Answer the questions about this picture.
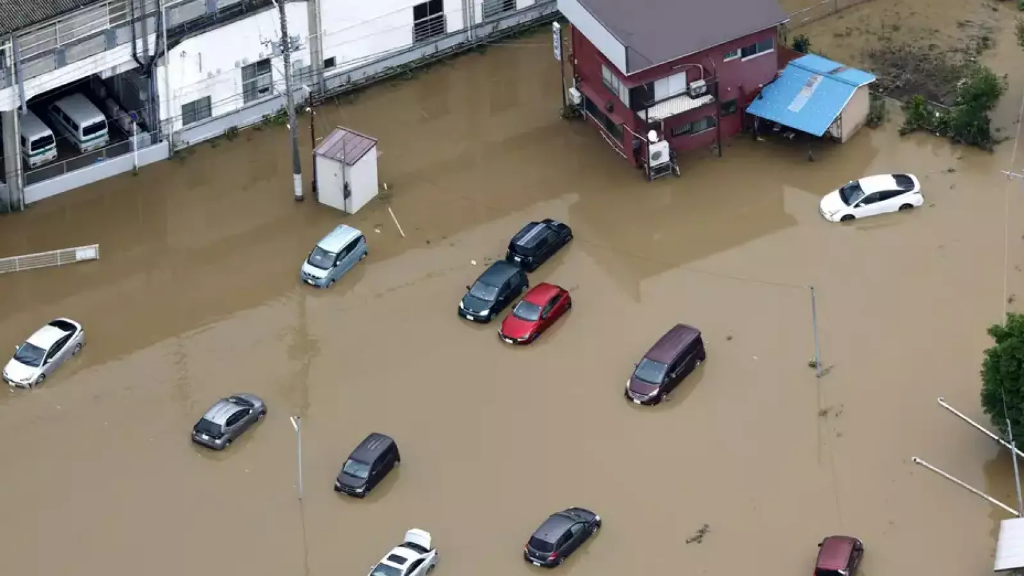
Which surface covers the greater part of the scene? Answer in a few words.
water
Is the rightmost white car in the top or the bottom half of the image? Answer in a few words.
top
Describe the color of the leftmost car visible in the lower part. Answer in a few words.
white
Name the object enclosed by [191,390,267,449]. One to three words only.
car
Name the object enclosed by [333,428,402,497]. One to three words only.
car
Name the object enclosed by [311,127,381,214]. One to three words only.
shed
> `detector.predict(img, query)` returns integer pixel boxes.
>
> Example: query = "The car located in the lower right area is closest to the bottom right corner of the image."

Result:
[821,536,869,576]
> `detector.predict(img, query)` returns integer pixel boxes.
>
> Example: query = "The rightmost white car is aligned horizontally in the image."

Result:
[818,171,924,220]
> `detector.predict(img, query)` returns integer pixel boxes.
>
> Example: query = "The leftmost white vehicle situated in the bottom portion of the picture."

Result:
[1,314,86,386]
